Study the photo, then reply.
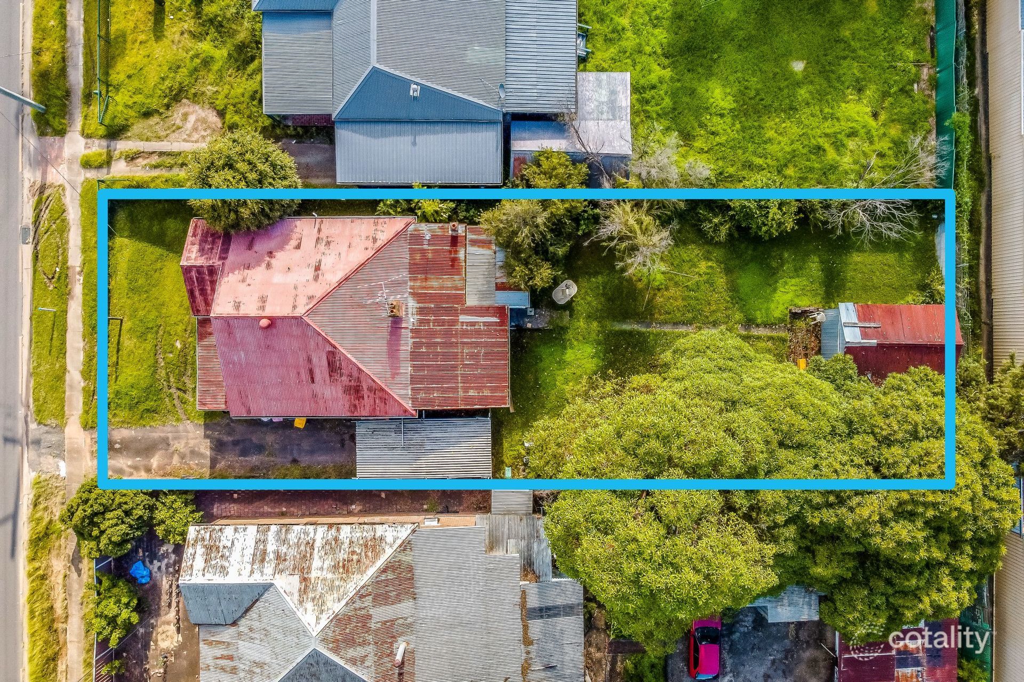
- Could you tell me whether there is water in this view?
No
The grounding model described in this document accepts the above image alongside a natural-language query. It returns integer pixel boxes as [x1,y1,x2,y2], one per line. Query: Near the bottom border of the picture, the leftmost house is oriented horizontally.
[178,523,523,682]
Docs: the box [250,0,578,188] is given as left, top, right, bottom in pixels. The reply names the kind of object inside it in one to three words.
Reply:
house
